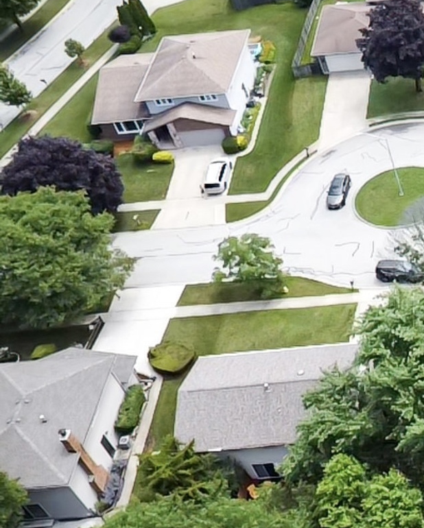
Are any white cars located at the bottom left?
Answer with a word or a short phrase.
No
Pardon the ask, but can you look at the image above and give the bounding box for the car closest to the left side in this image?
[198,161,228,195]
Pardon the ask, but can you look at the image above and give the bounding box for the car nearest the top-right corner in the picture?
[324,172,349,206]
